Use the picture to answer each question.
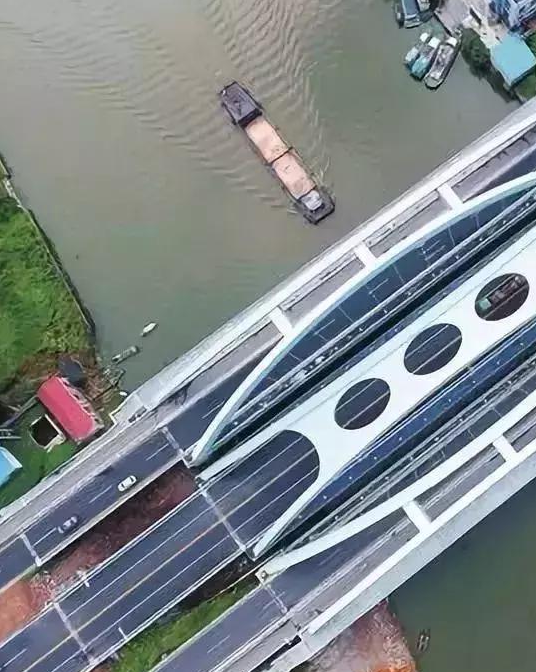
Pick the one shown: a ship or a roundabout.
ship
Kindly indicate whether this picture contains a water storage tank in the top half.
No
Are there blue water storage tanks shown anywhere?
No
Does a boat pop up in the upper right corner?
Yes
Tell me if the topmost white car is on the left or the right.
left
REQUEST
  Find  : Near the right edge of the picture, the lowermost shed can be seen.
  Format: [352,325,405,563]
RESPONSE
[491,32,536,93]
